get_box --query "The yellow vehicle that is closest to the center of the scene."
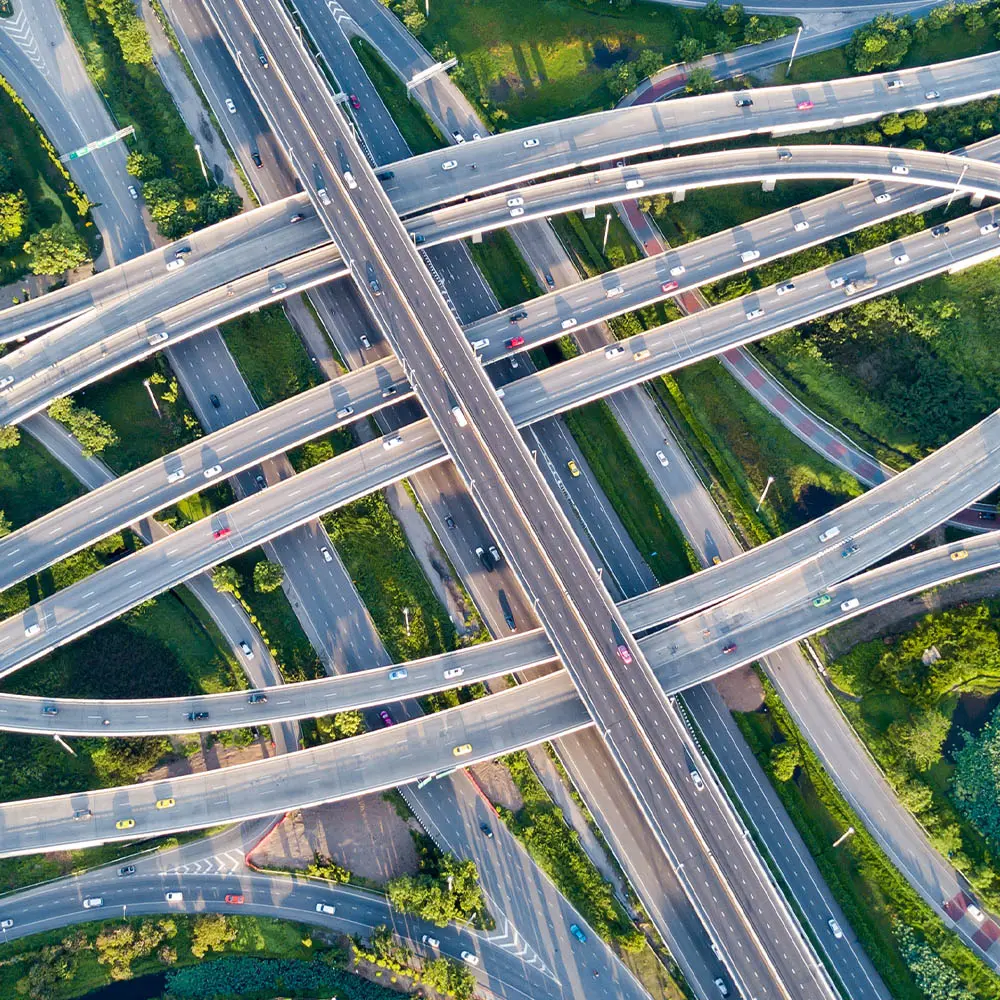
[567,460,580,477]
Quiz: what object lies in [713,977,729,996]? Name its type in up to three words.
car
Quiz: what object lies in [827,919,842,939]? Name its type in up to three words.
car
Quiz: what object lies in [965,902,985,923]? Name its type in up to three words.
vehicle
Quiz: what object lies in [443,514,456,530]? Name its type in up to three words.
vehicle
